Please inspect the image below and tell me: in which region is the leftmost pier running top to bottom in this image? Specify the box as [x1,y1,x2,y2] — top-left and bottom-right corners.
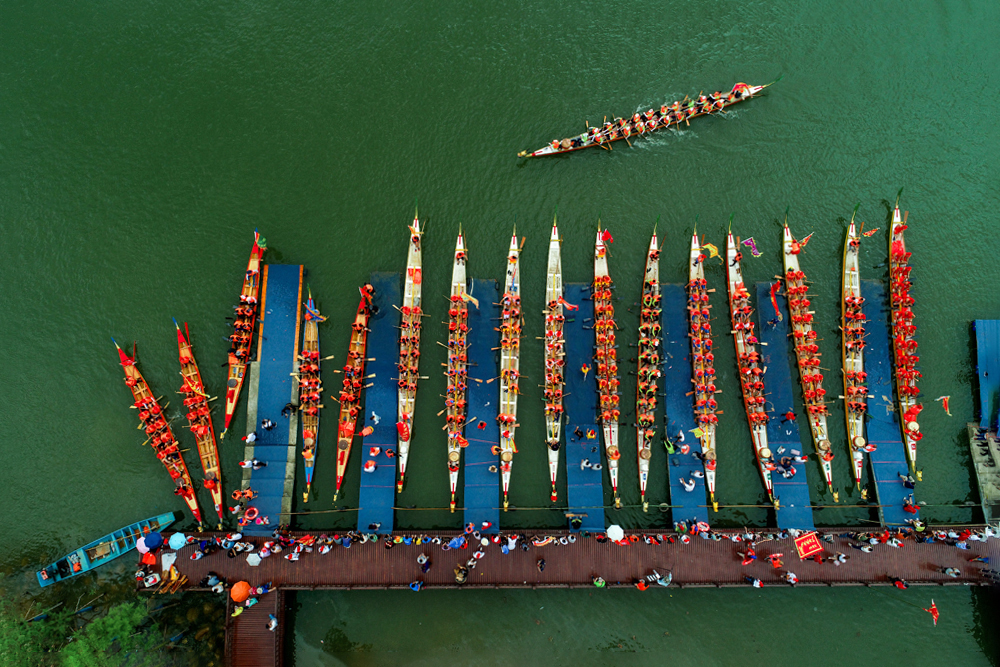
[237,265,306,534]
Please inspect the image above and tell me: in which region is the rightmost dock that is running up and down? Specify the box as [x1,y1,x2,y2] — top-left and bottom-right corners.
[861,279,917,534]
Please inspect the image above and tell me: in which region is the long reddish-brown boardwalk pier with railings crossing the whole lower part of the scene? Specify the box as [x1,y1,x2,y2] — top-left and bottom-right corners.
[126,532,1000,667]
